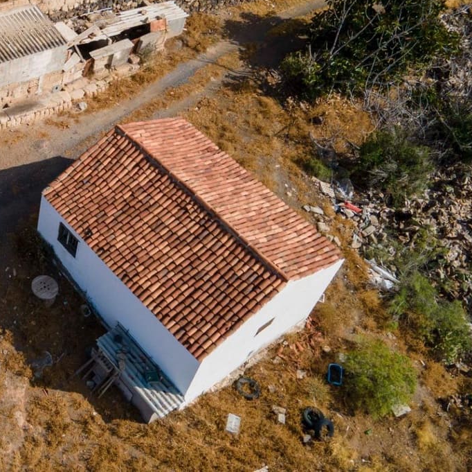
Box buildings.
[65,0,196,80]
[36,116,348,405]
[0,1,74,106]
